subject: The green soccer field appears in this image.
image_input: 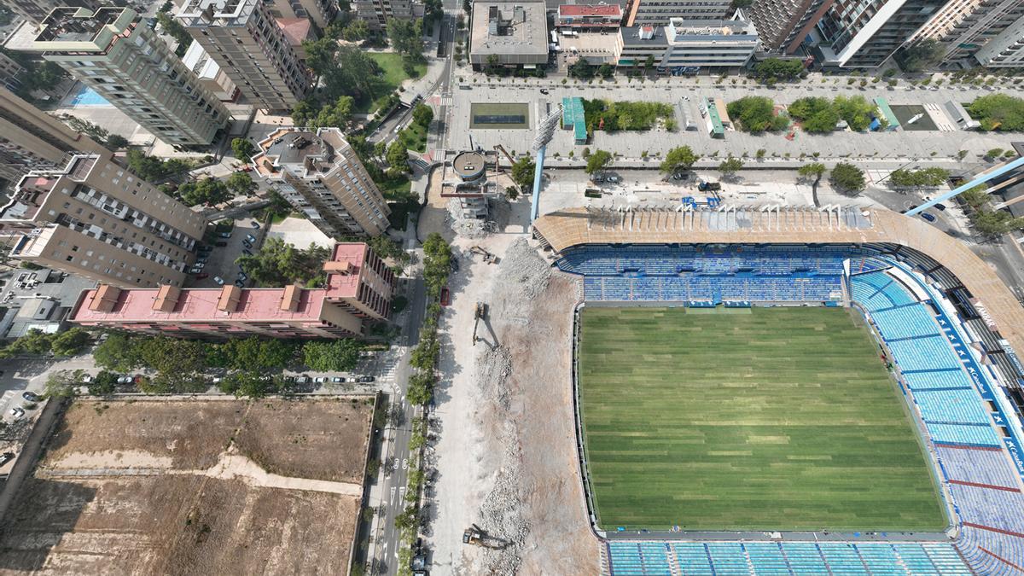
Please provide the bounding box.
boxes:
[575,302,955,540]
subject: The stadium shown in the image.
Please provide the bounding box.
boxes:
[534,203,1024,576]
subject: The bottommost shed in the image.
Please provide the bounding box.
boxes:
[0,395,57,510]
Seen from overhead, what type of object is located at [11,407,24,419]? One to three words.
vehicle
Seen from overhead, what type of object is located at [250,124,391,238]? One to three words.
building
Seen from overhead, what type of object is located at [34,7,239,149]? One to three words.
building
